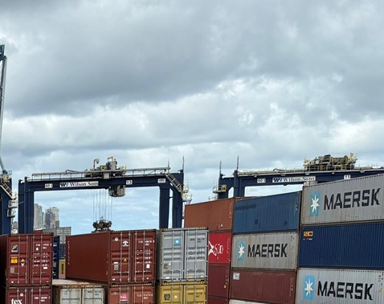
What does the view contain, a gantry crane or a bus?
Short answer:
gantry crane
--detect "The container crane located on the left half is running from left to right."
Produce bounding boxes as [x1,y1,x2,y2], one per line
[14,157,206,234]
